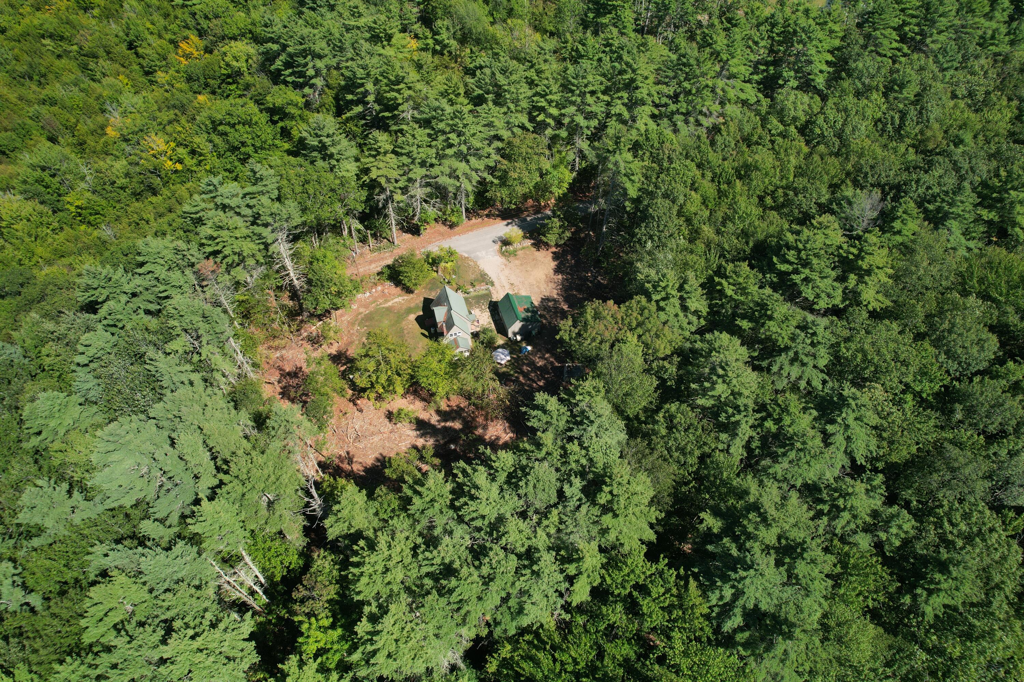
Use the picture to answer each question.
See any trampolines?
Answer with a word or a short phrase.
No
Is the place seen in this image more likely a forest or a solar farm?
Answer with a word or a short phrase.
forest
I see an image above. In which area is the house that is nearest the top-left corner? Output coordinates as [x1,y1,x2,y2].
[430,285,480,364]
